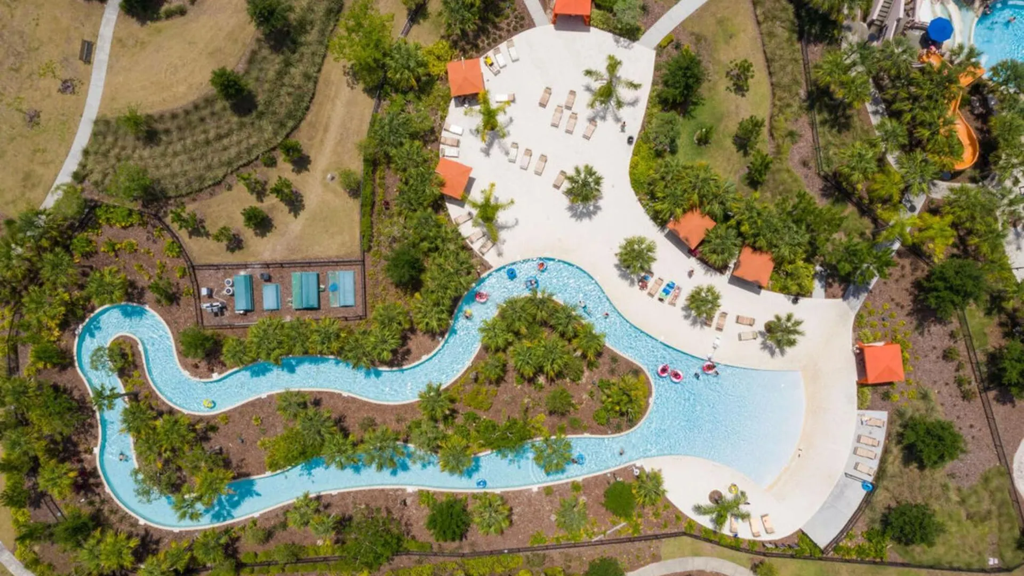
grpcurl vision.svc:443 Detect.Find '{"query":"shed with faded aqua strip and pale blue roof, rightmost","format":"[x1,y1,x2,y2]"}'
[329,271,356,306]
